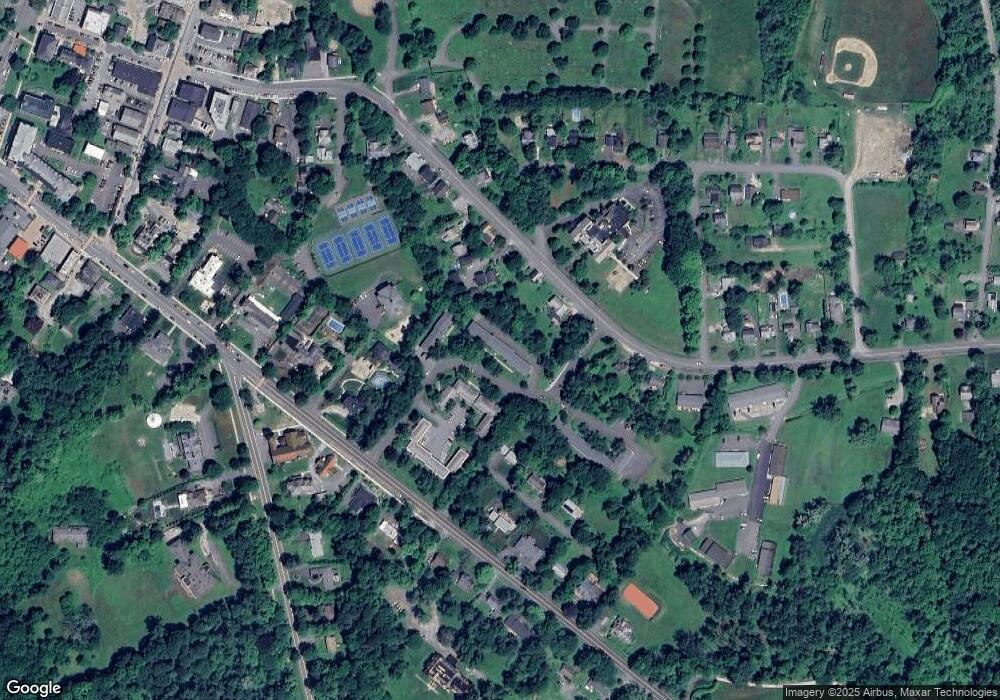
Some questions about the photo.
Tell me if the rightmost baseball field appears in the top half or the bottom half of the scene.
top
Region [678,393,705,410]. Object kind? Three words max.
building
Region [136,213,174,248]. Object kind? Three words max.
house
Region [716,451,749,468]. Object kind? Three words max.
shed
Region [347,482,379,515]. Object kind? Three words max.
building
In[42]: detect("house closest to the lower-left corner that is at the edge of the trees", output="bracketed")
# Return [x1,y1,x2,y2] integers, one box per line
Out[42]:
[52,529,88,550]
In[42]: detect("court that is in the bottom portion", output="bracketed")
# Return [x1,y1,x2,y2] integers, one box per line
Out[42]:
[620,581,662,621]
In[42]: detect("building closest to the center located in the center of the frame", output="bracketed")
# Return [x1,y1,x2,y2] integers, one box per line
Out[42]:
[466,323,532,376]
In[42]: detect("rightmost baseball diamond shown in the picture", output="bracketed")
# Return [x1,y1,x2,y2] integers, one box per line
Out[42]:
[819,0,939,103]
